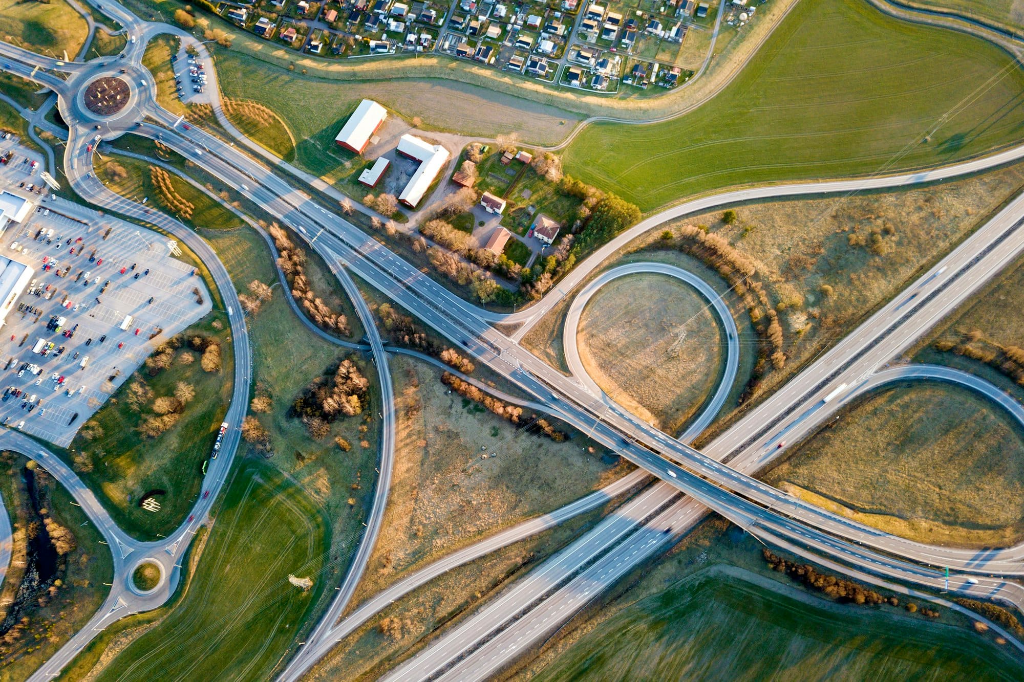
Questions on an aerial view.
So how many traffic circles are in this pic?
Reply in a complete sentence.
In total, 2 traffic circles can be seen.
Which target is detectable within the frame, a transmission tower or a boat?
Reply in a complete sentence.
Looking from above, you can make out a transmission tower.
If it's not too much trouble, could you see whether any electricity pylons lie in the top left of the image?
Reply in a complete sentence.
No, I see no electricity pylon in the top left of the image.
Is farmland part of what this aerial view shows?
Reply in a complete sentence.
Yes, there's farmland in this view.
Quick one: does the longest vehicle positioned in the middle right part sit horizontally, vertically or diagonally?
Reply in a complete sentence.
Seen from above, the longest vehicle positioned in the middle right part lies diagonally.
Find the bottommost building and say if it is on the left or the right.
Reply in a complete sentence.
The bottommost building appears in the left half of the scene.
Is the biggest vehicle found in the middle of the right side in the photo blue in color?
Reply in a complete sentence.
No, the biggest vehicle found in the middle of the right side is white.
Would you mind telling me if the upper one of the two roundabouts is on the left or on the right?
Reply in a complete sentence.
The upper one of the two roundabouts sits on the left side.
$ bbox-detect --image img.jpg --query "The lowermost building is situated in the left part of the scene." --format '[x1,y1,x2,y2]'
[0,254,35,326]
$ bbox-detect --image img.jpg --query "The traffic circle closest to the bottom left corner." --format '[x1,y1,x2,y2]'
[92,520,195,630]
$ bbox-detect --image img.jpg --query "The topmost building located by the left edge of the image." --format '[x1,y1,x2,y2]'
[0,189,34,242]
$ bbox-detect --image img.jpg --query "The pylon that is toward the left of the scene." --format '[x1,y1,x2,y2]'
[289,569,313,594]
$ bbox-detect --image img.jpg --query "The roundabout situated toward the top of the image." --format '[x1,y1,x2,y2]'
[59,40,155,152]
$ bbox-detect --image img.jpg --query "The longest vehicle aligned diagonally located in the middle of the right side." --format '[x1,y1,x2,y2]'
[821,383,846,403]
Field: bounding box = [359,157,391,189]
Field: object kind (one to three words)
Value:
shed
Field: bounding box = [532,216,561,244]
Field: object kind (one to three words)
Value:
house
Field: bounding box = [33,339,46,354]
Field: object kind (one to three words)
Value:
vehicle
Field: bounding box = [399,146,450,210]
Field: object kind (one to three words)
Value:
barn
